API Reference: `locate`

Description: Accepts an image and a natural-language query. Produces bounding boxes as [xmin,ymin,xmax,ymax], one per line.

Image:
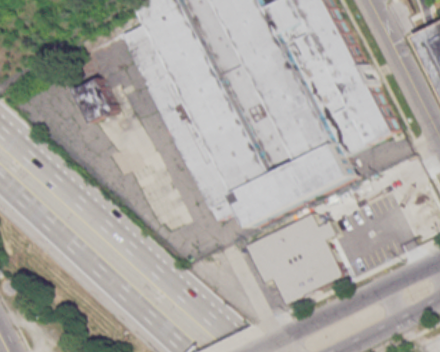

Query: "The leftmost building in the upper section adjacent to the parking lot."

[124,0,402,228]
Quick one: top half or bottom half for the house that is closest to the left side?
top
